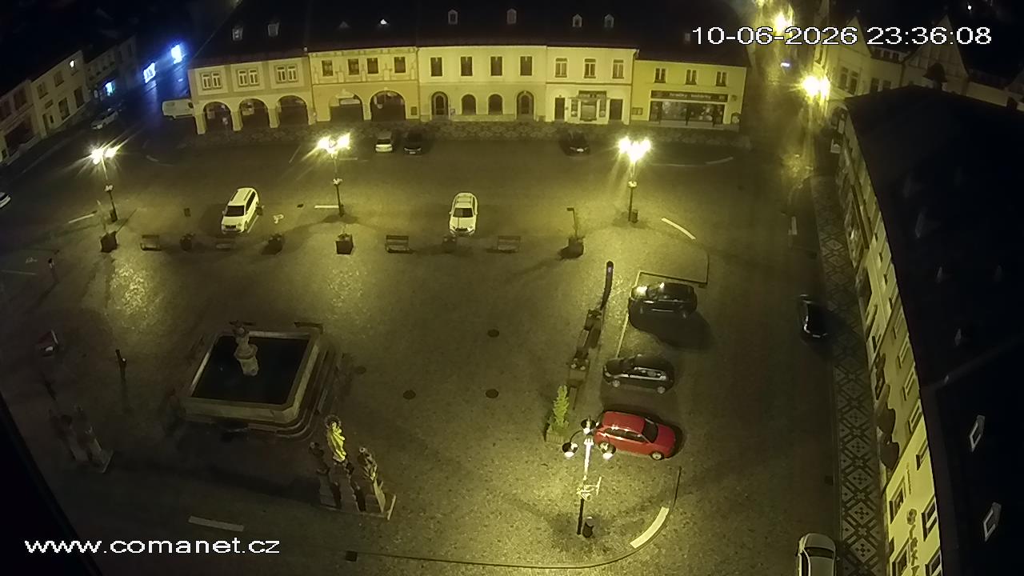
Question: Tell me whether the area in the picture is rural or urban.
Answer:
urban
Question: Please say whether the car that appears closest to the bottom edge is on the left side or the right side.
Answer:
right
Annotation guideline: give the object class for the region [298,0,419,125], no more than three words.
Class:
house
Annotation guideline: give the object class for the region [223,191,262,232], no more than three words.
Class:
car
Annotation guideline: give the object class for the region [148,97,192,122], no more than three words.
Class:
vehicle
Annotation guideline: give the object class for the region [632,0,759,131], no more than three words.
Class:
house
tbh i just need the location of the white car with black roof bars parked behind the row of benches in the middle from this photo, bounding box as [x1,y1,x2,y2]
[449,193,479,233]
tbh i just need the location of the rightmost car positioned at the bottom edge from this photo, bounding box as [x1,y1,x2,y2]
[795,540,852,576]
